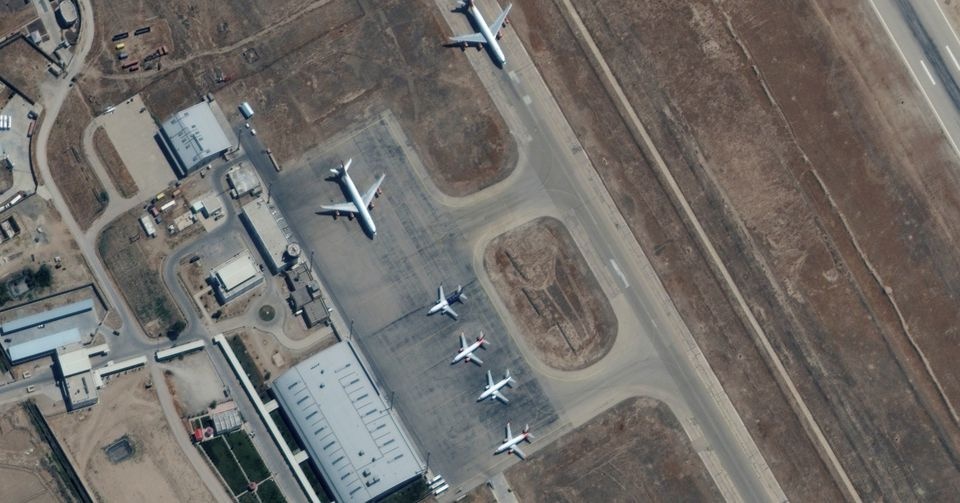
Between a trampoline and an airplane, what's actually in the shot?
airplane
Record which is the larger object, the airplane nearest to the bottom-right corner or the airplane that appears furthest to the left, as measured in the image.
the airplane that appears furthest to the left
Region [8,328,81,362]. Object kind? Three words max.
shed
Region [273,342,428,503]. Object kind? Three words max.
hangar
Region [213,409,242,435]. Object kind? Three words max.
greenhouse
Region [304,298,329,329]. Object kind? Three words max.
building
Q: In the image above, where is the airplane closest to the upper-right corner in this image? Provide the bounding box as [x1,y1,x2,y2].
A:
[448,0,518,64]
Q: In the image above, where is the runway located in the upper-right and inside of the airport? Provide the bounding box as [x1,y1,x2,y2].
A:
[863,0,960,165]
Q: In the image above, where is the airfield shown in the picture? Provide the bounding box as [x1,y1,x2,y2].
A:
[269,0,960,503]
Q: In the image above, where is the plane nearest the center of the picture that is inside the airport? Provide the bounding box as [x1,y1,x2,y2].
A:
[428,286,465,316]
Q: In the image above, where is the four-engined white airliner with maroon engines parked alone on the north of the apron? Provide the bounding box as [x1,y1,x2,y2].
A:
[319,160,389,237]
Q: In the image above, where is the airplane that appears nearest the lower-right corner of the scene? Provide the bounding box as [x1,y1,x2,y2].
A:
[493,423,532,456]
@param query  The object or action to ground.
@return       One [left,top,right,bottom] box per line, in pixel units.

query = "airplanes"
[448,0,518,64]
[476,372,516,402]
[493,423,532,456]
[428,286,465,316]
[319,160,389,237]
[452,333,488,362]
